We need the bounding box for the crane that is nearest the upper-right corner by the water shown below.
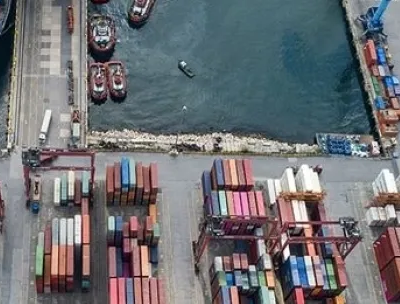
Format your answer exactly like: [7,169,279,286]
[354,0,393,45]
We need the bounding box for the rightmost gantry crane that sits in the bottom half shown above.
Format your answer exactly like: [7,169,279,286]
[269,219,364,268]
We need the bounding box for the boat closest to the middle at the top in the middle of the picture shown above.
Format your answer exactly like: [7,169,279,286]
[177,57,195,76]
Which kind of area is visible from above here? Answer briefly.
port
